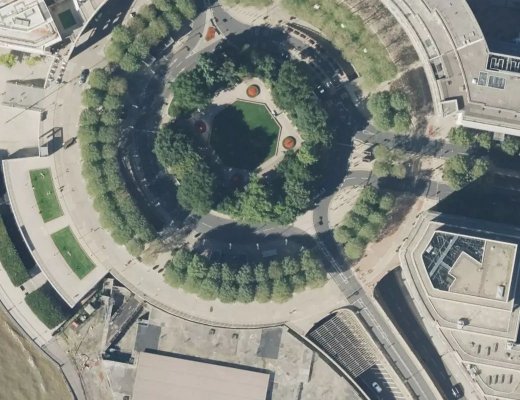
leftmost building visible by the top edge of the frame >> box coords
[0,0,63,59]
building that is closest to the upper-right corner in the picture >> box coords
[376,0,520,139]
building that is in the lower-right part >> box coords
[398,213,520,400]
